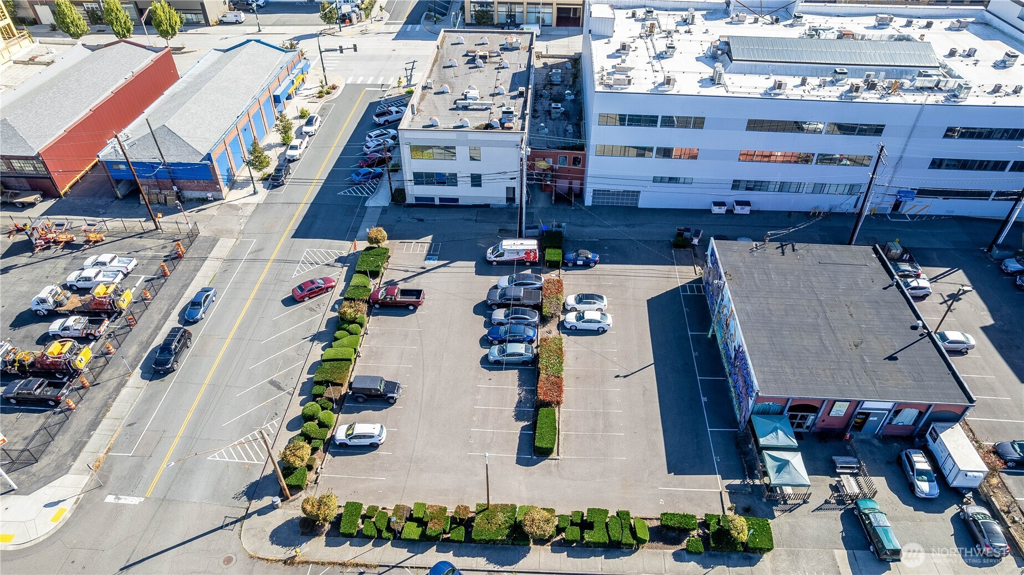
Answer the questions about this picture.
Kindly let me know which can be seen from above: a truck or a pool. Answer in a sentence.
Looking from above, you can make out a truck.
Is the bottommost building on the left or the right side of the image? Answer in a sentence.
It is on the right.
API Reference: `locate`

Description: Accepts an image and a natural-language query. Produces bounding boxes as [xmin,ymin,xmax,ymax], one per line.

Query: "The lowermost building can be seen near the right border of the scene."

[702,236,982,444]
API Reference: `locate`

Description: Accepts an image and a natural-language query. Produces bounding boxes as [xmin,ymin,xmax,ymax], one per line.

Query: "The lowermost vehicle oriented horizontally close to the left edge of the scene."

[2,378,76,406]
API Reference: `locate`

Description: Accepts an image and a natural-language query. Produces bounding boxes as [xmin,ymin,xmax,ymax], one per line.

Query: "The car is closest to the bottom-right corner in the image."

[958,503,1014,564]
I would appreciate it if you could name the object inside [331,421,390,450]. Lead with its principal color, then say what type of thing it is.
white car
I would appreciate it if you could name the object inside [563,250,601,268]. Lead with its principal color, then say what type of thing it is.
blue car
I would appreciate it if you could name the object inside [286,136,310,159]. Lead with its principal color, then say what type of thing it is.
white truck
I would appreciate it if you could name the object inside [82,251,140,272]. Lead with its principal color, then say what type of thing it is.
white truck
